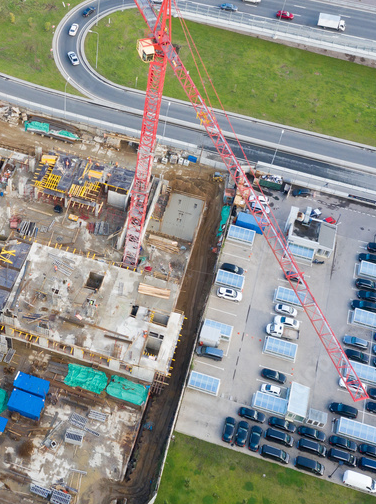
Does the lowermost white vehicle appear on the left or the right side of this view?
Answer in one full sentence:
You can find the lowermost white vehicle on the right side of the picture.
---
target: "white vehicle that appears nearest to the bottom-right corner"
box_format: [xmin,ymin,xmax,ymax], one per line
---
[343,467,376,492]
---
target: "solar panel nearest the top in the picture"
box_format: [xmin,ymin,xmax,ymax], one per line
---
[228,226,255,243]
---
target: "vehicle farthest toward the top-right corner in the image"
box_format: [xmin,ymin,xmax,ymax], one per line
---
[316,10,346,27]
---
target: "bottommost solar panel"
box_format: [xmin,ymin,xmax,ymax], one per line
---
[340,417,376,443]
